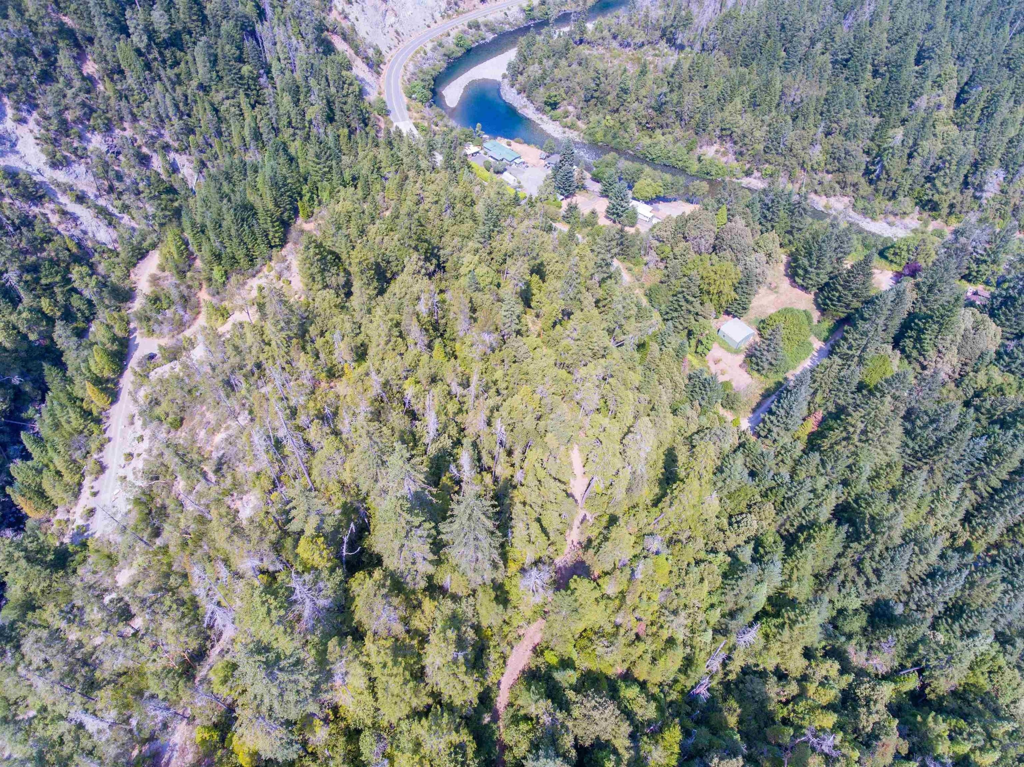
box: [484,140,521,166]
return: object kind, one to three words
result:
house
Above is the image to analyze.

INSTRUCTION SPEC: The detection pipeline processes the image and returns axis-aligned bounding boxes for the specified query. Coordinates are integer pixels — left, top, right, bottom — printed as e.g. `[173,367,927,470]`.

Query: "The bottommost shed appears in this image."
[720,318,755,348]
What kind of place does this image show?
forest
